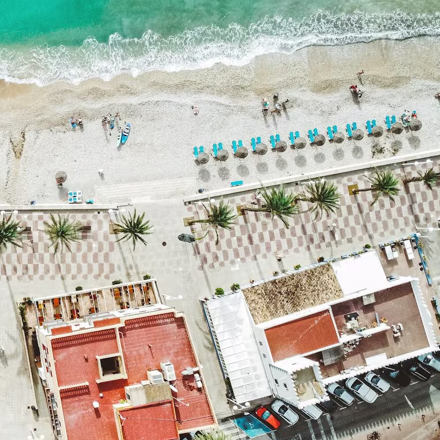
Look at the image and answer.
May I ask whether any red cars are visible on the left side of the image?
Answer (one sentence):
No, there's no red car to be seen on the left side of the image.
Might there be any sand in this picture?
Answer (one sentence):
Yes, the picture does contain sand.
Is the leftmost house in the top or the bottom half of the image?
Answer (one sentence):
The leftmost house is in the bottom half of the image.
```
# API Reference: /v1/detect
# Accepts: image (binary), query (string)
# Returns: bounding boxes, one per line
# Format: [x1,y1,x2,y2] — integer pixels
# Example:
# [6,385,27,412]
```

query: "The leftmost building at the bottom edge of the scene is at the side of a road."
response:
[36,300,216,440]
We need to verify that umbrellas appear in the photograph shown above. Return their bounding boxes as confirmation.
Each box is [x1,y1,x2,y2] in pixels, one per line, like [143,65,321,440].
[216,148,229,161]
[273,140,286,153]
[196,152,209,165]
[370,125,383,138]
[294,137,306,150]
[313,133,325,146]
[235,146,248,158]
[390,121,403,134]
[332,131,345,144]
[350,128,363,141]
[255,142,268,155]
[406,118,420,131]
[54,170,67,183]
